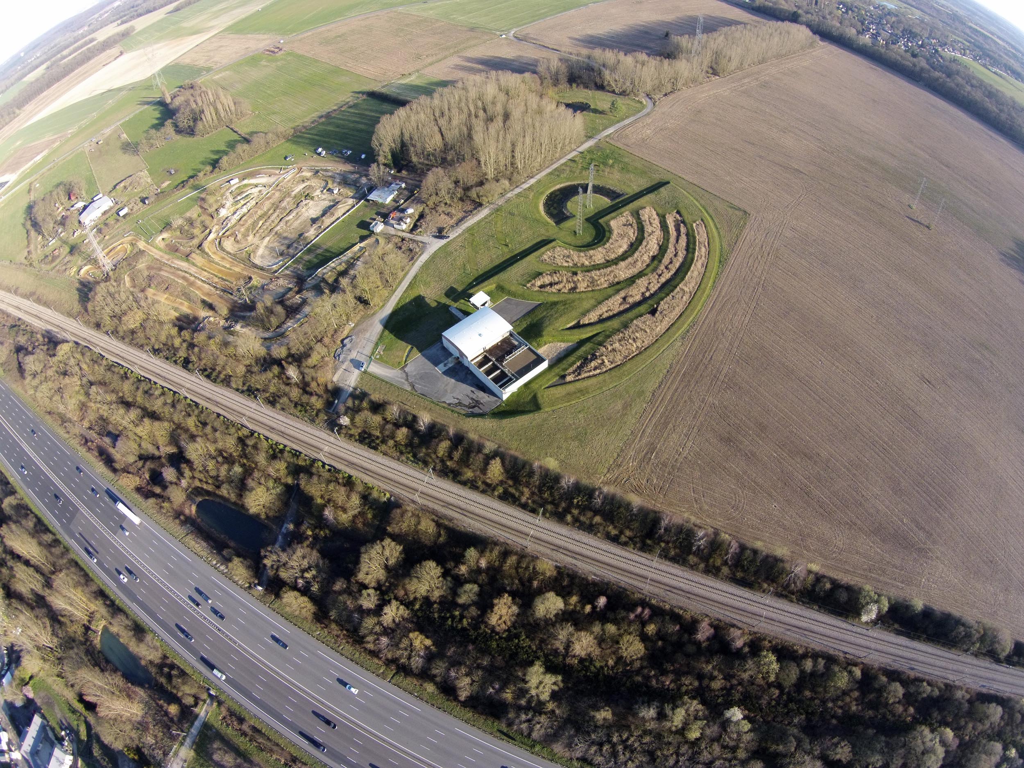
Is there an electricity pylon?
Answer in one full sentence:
Yes, there's an electricity pylon here.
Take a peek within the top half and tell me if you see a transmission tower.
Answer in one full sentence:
Yes, the scene does show a transmission tower within the top half.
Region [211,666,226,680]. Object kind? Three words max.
vehicle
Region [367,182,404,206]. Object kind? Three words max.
building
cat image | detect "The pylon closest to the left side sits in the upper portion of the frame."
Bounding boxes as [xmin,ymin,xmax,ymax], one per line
[78,224,114,279]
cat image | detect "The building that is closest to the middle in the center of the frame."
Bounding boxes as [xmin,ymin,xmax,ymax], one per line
[442,305,548,399]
